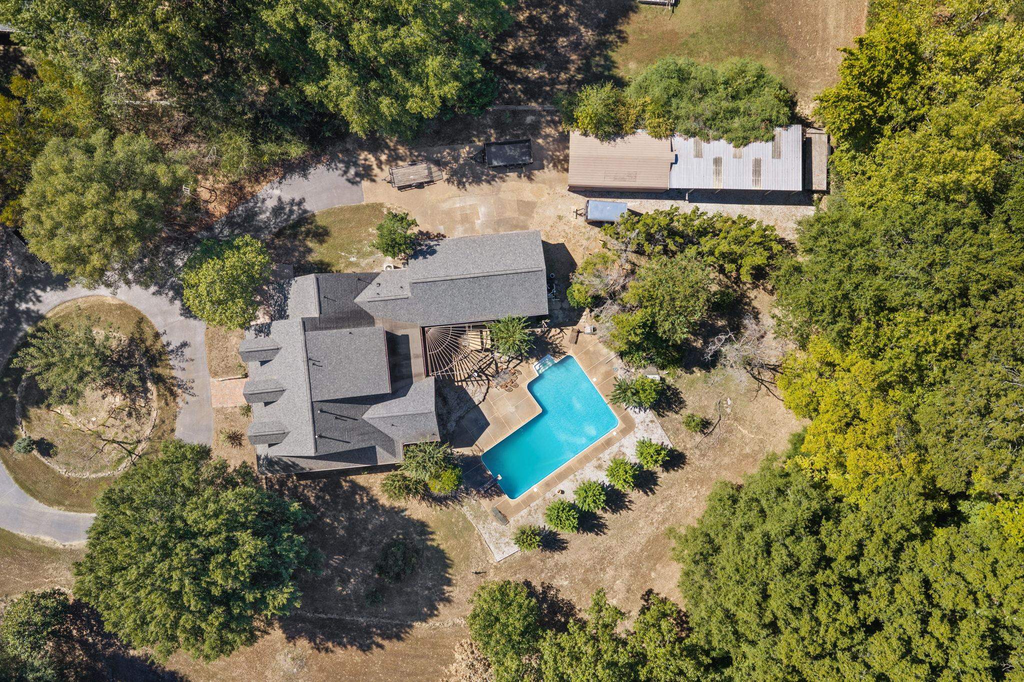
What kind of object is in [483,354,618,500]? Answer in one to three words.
swimming pool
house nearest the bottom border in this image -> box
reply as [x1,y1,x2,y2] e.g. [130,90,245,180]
[240,229,548,475]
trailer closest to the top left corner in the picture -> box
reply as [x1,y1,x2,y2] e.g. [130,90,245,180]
[380,160,444,191]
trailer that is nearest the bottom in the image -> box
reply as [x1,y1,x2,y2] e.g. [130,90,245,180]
[569,201,627,228]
